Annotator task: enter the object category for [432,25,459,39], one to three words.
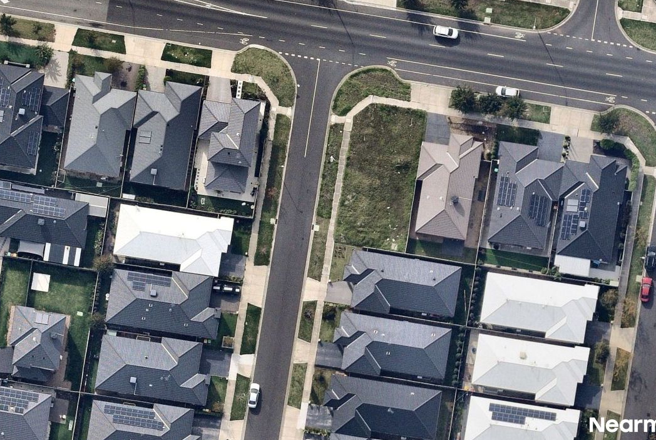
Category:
car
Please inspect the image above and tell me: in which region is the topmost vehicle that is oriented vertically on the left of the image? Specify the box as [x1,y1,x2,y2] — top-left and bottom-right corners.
[249,383,262,408]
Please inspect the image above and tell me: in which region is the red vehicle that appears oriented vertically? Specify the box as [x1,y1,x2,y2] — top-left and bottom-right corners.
[641,277,654,303]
